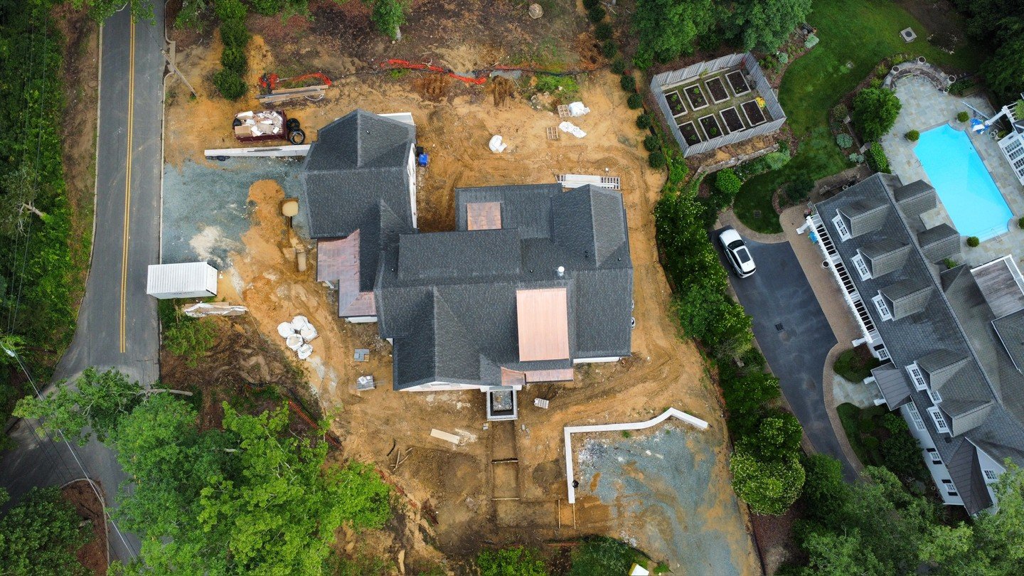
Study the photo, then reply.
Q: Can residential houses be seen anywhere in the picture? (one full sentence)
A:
Yes, the frame does contain a residential house.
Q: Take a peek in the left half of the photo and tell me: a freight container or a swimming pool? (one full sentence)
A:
You can see a freight container in the left half of the photo.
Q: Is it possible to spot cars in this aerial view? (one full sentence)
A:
Yes, you can see a car in this photo.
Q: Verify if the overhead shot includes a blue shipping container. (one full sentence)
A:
No, this view has no blue shipping container in it.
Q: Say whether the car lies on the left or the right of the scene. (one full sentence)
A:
The car is on the right side of the image.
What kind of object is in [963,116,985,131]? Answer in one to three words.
umbrella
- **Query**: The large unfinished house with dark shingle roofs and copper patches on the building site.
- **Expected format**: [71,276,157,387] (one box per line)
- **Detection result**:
[298,106,636,392]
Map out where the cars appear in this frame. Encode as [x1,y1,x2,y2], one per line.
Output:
[720,229,756,277]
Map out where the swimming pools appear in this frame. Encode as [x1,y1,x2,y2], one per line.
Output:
[910,121,1017,247]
